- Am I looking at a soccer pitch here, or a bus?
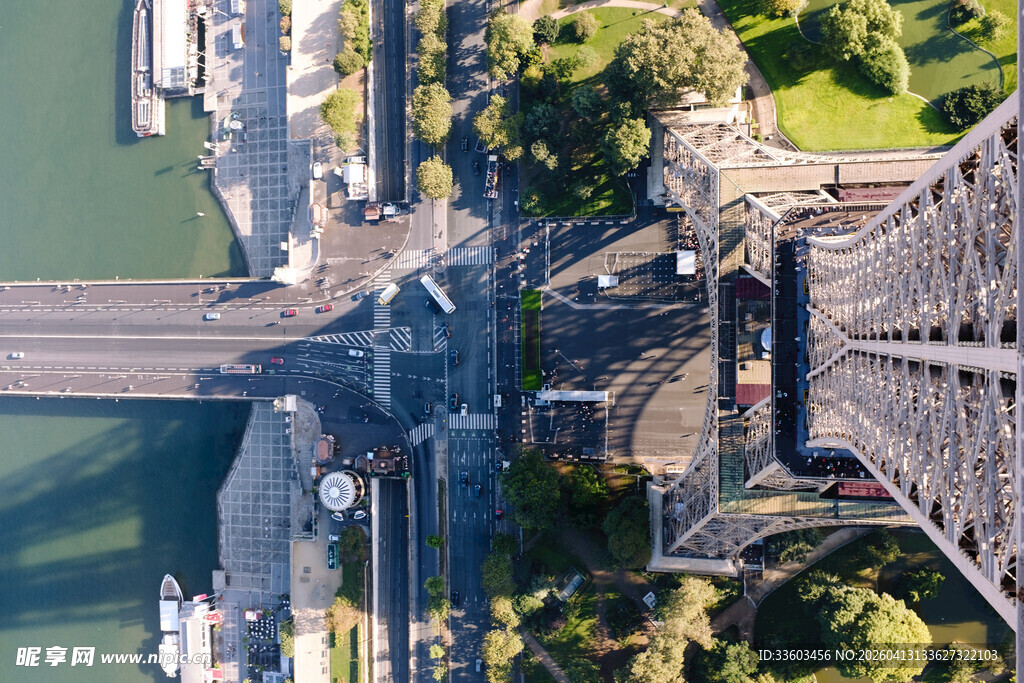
bus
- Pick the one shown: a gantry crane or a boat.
boat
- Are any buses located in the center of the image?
Yes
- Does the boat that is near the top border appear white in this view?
Yes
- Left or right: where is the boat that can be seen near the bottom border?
left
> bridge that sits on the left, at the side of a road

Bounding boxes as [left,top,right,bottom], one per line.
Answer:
[0,277,299,403]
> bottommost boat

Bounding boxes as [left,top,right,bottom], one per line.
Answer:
[159,573,185,677]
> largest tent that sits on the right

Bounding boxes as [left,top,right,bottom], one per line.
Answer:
[677,251,696,275]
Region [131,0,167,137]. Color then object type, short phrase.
white boat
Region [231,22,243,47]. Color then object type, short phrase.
white vehicle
